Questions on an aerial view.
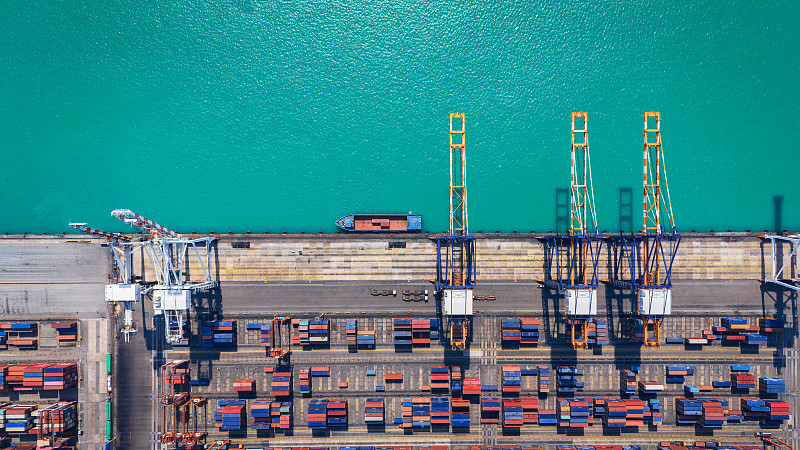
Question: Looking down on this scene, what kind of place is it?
port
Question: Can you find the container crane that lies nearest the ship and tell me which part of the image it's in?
center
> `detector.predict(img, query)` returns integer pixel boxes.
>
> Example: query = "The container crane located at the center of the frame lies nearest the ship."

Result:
[429,112,478,350]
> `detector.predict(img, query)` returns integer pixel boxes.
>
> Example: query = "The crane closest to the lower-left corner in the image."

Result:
[41,399,81,450]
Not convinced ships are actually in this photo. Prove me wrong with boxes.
[325,213,434,235]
